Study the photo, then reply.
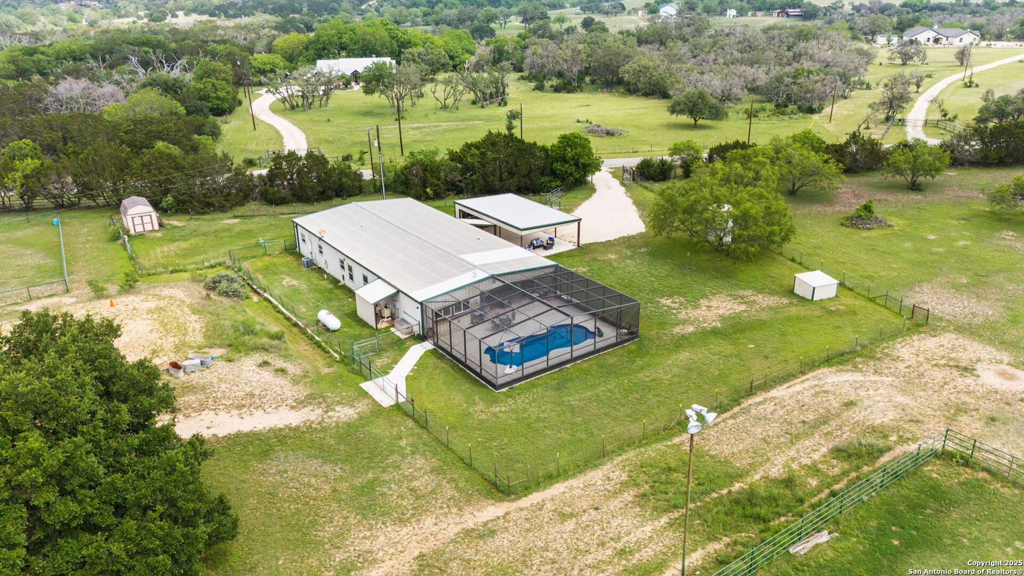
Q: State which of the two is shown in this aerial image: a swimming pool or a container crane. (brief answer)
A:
swimming pool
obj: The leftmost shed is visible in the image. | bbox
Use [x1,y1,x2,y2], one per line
[120,195,158,234]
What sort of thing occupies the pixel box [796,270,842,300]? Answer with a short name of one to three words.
shed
